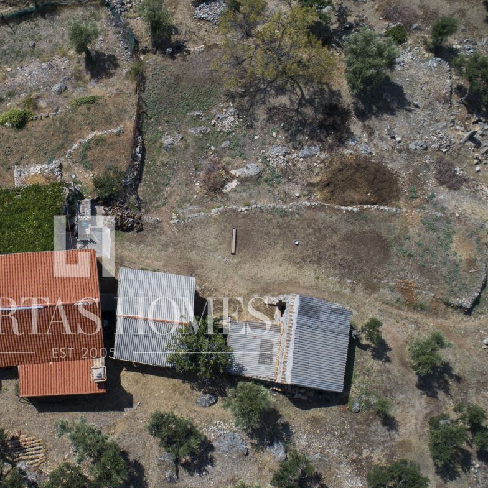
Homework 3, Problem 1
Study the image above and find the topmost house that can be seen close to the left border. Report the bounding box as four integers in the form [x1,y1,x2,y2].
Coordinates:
[0,248,106,370]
